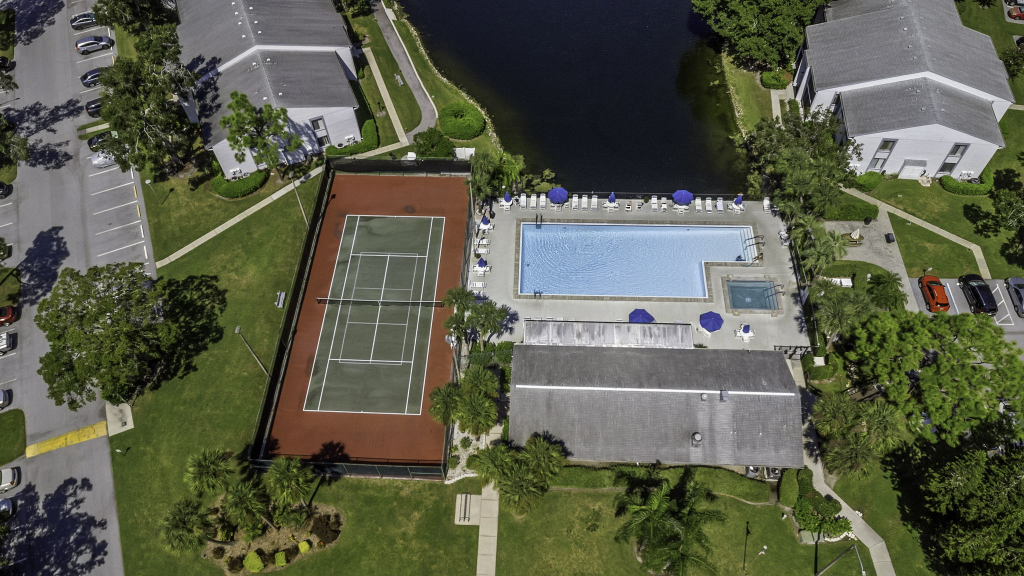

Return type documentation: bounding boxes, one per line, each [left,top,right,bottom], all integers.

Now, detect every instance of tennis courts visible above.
[262,174,472,478]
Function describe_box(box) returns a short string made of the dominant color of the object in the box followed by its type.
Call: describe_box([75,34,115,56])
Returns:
gray car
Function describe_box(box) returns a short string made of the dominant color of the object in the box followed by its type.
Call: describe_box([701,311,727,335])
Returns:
blue umbrella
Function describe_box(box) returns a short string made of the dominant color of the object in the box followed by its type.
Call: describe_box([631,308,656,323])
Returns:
blue umbrella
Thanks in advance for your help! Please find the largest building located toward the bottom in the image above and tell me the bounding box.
[510,344,805,470]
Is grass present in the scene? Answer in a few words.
Yes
